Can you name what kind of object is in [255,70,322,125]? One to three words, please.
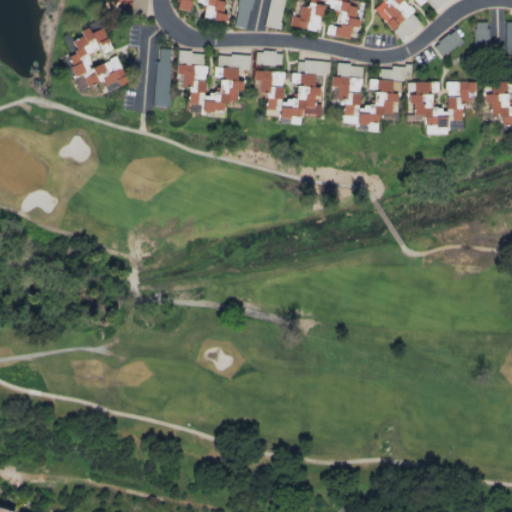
house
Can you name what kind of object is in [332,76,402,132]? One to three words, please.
house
